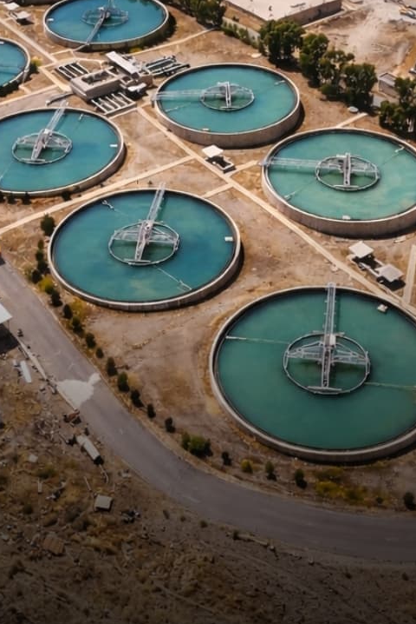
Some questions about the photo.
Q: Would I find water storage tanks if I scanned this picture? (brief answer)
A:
Yes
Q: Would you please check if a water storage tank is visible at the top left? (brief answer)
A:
Yes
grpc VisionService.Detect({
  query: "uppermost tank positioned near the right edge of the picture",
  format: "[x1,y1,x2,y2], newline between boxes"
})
[257,128,416,237]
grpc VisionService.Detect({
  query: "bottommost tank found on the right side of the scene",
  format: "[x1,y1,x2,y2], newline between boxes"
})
[211,277,416,467]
